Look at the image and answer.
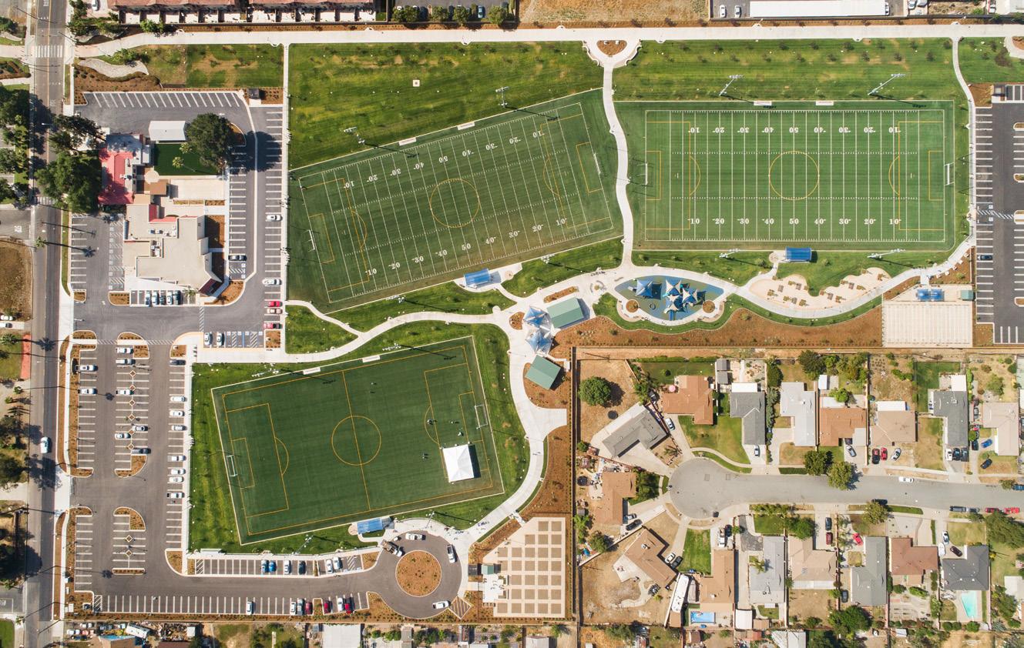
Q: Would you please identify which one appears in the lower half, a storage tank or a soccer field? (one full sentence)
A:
Visible in the lower half is a soccer field.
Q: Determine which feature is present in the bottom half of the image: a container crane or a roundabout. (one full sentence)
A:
The one visible in the bottom half of the image is a roundabout.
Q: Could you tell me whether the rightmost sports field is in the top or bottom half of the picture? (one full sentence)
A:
Seen from above, the rightmost sports field lies in the top half of the view.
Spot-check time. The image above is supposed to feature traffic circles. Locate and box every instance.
[377,531,460,618]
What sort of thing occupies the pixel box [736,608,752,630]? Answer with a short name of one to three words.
shed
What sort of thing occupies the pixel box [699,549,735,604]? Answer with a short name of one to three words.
house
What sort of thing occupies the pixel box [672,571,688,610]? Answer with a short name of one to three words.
camper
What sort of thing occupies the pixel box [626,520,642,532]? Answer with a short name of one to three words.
vehicle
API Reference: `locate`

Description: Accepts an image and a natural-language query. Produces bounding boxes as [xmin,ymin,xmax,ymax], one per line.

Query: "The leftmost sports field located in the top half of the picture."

[288,86,624,313]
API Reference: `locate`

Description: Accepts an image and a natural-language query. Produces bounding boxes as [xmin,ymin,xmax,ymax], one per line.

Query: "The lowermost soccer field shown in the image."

[210,335,504,546]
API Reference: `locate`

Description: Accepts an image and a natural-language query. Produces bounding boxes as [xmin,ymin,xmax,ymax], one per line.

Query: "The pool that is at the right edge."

[962,591,979,619]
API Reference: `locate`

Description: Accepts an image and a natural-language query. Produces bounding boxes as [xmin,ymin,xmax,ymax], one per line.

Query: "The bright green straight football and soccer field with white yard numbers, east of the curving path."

[613,99,956,251]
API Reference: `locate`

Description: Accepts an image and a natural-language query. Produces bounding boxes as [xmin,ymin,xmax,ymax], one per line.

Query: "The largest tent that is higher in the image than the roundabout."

[443,444,474,482]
